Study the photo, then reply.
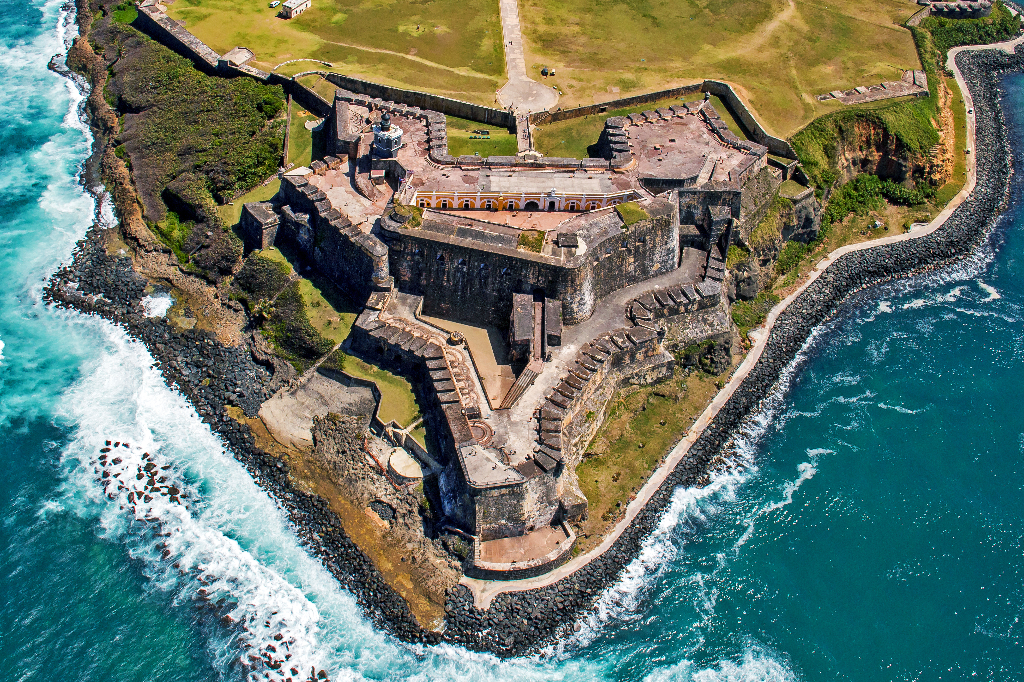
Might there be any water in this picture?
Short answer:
Yes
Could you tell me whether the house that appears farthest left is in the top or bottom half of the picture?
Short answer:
top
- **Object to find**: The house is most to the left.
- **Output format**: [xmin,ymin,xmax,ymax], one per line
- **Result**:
[218,47,257,84]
